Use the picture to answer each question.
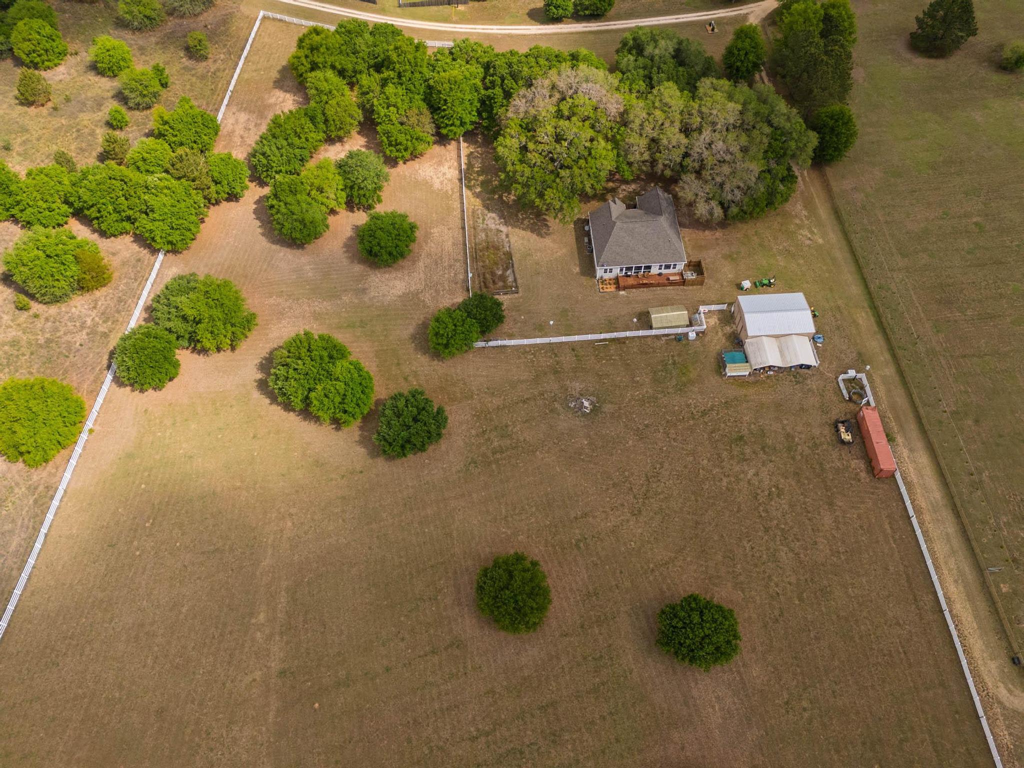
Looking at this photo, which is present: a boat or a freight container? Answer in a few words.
freight container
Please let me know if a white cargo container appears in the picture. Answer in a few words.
No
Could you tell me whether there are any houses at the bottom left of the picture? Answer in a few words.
No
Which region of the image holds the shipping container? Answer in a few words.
right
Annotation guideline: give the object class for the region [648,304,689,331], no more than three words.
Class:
shed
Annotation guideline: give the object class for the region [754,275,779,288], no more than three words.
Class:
vehicle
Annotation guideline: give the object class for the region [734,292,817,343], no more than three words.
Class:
barn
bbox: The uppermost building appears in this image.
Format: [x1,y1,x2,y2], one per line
[587,185,689,277]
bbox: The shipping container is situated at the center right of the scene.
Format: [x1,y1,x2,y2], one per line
[856,407,896,478]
